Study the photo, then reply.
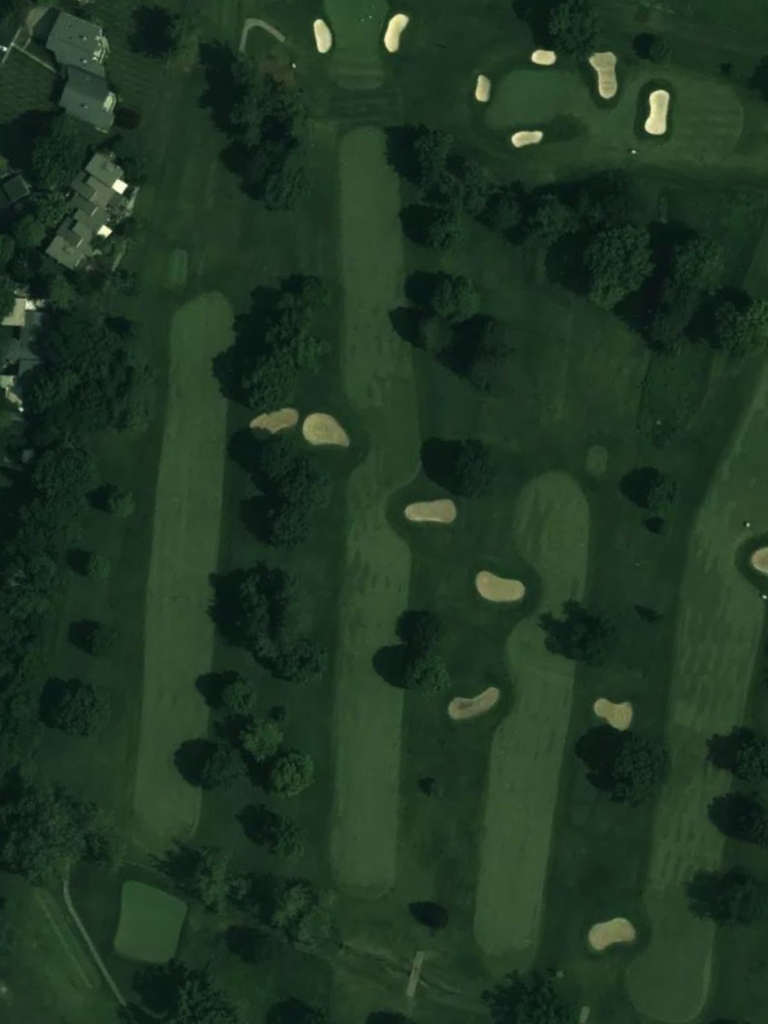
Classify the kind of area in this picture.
golf course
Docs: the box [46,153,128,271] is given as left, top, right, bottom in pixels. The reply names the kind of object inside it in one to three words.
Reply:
house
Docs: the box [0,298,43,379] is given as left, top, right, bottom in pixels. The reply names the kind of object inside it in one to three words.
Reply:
house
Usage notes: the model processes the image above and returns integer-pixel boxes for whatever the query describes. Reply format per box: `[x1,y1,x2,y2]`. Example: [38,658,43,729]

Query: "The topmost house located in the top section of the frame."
[46,12,109,77]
